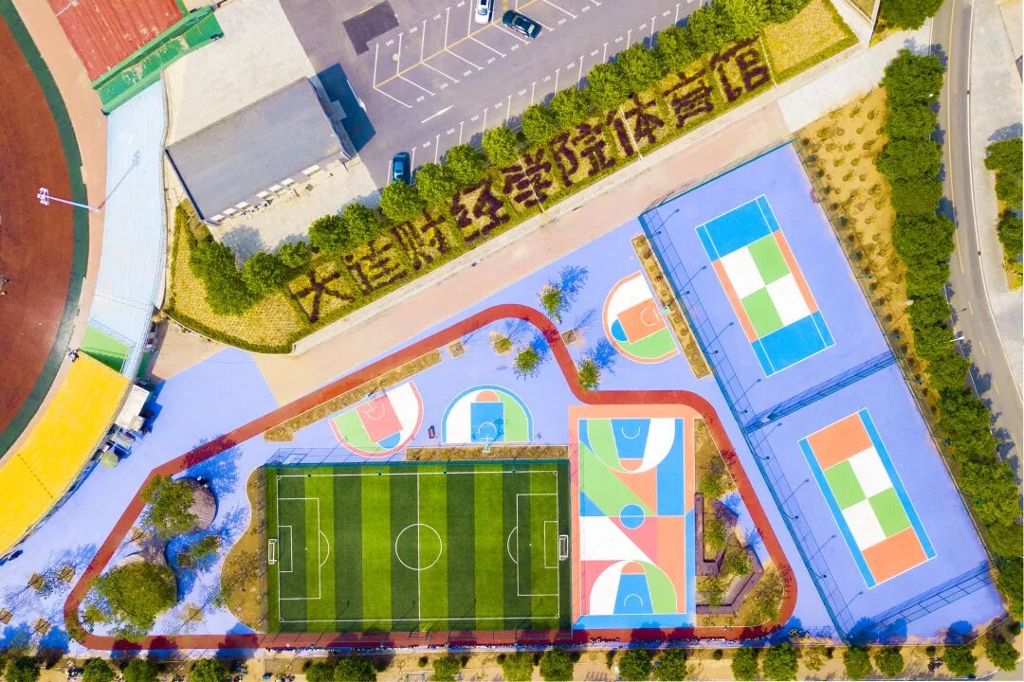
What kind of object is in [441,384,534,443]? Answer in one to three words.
basketball court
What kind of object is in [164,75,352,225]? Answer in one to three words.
building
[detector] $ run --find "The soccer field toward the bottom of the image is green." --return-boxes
[266,463,572,633]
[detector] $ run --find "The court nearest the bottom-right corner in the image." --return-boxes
[797,408,937,590]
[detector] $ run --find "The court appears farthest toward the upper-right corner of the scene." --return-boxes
[696,194,835,377]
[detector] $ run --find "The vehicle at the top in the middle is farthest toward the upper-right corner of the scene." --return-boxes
[505,10,538,35]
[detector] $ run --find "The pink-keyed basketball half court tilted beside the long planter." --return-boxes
[329,381,422,458]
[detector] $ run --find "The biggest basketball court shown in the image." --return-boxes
[570,405,696,627]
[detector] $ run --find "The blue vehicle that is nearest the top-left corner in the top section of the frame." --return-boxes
[391,152,407,184]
